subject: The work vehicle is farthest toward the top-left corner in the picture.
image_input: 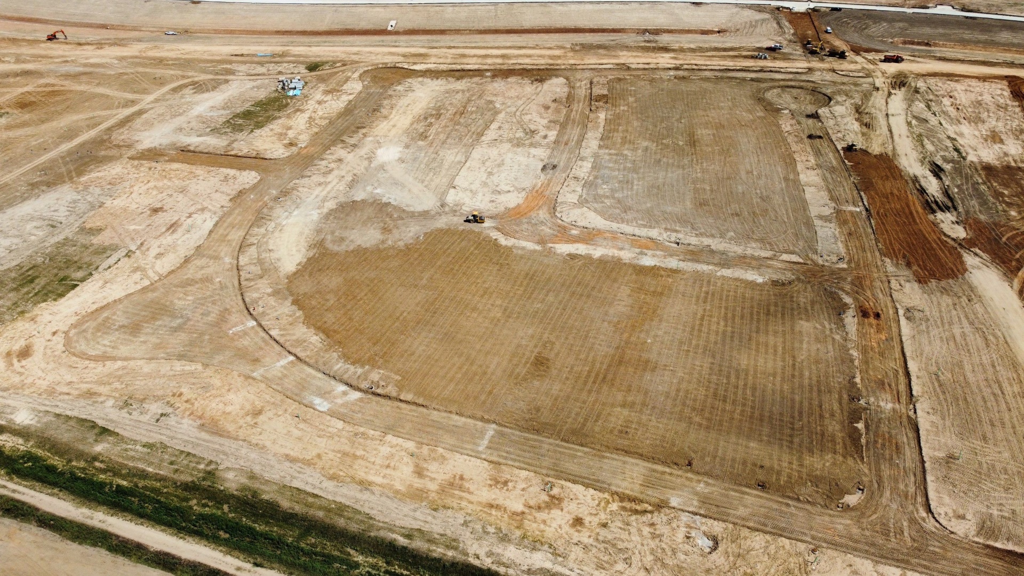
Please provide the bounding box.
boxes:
[47,27,72,41]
